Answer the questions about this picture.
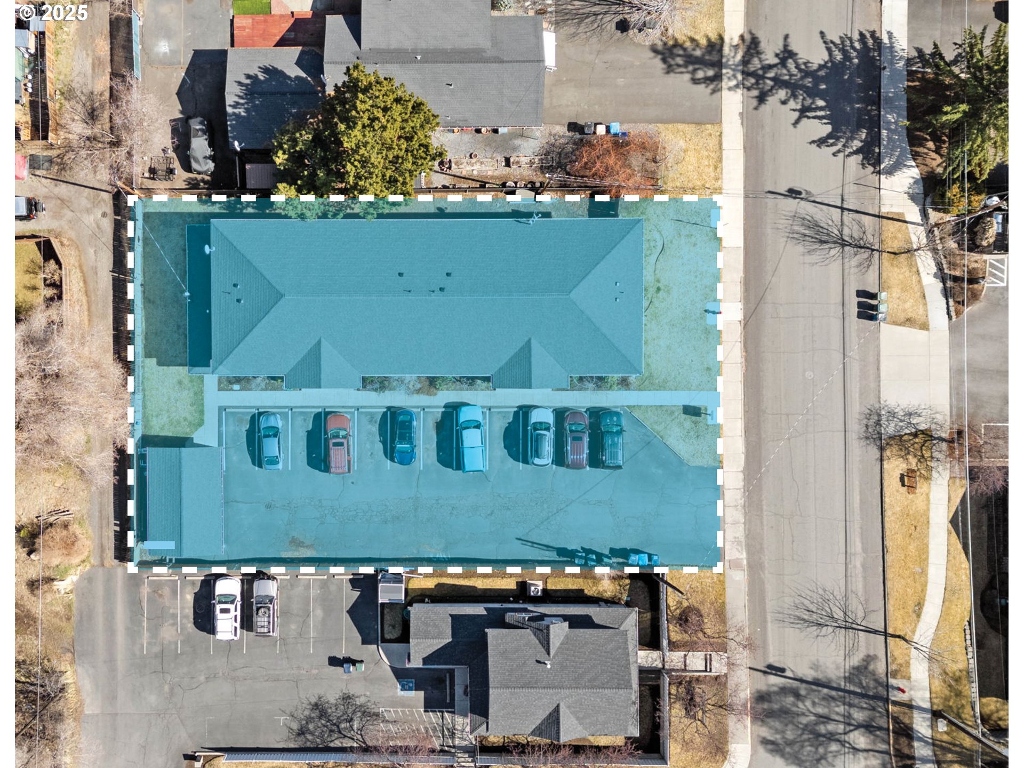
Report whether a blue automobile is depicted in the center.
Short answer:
Yes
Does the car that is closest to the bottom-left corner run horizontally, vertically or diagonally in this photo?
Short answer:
vertically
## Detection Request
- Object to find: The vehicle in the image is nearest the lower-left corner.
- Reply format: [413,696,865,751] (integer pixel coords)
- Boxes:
[212,577,243,641]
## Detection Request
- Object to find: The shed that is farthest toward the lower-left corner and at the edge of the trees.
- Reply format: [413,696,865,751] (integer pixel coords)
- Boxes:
[146,447,228,558]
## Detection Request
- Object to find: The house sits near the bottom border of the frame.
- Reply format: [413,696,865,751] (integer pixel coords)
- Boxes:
[408,600,640,743]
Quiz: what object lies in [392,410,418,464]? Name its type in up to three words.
car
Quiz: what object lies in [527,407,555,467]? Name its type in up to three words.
car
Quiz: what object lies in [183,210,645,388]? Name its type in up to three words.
building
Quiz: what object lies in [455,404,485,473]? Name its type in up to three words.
truck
